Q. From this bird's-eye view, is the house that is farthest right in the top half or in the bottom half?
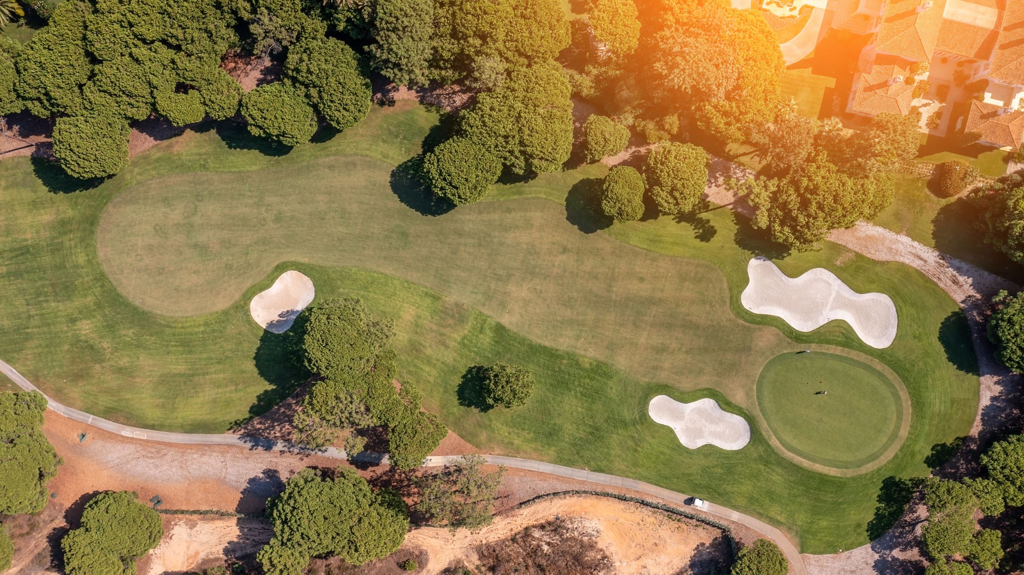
top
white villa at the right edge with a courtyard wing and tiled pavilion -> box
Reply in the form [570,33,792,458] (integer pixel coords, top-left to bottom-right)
[933,0,1024,148]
